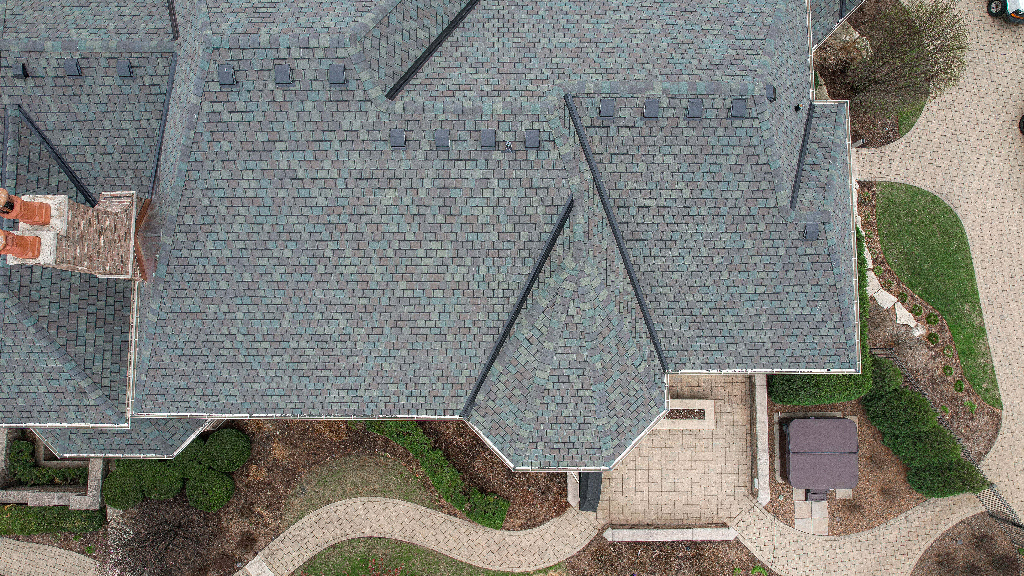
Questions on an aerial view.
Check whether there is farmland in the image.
No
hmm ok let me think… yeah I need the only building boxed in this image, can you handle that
[0,0,871,486]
